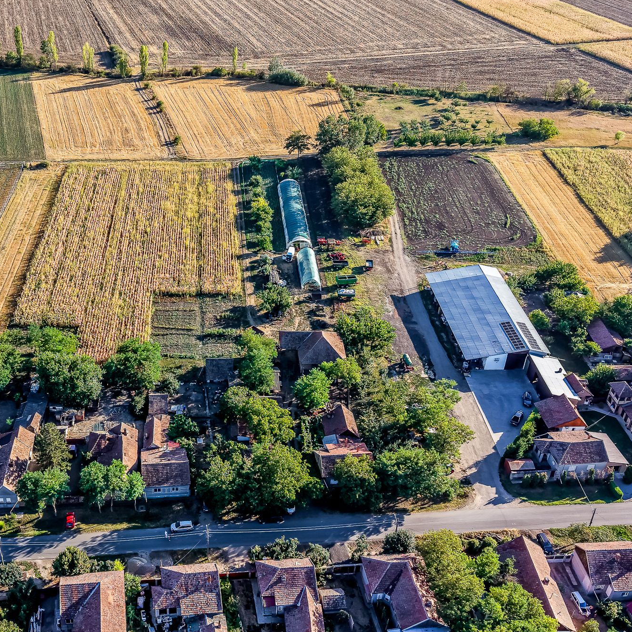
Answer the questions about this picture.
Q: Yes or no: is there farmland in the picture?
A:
Yes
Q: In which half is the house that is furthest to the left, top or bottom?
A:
bottom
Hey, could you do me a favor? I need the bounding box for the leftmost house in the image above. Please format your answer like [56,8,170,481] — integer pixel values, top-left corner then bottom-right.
[0,393,49,503]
